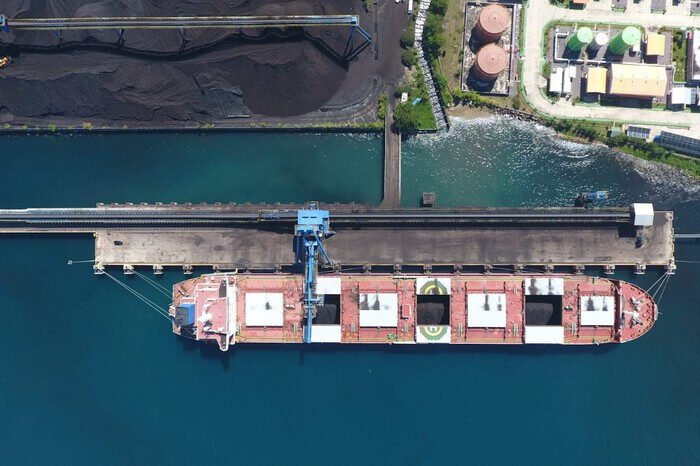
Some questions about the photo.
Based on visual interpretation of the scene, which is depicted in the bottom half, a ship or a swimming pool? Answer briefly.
ship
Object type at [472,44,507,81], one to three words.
storage tank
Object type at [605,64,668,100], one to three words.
building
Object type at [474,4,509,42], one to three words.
storage tank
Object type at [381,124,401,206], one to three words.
bridge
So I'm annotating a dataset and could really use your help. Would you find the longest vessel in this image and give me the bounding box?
[170,268,663,353]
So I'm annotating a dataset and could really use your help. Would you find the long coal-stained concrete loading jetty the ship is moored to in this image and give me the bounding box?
[94,204,675,265]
